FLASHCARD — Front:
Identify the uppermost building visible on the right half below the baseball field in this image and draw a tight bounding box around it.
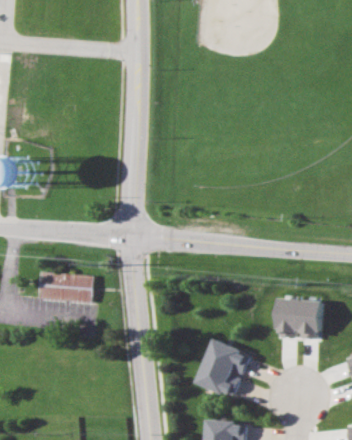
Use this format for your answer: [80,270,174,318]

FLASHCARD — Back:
[272,298,325,338]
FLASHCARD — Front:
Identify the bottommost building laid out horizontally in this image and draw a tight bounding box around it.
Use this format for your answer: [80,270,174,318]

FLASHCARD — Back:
[202,419,251,440]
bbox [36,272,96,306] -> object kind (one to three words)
building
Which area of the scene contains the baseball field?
top right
